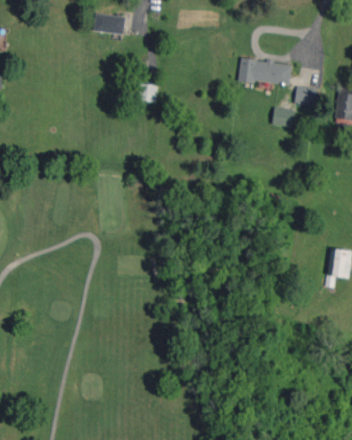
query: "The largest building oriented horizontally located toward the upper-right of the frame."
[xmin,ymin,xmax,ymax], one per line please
[238,56,292,84]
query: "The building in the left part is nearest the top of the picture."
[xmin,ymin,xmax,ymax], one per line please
[93,12,125,33]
